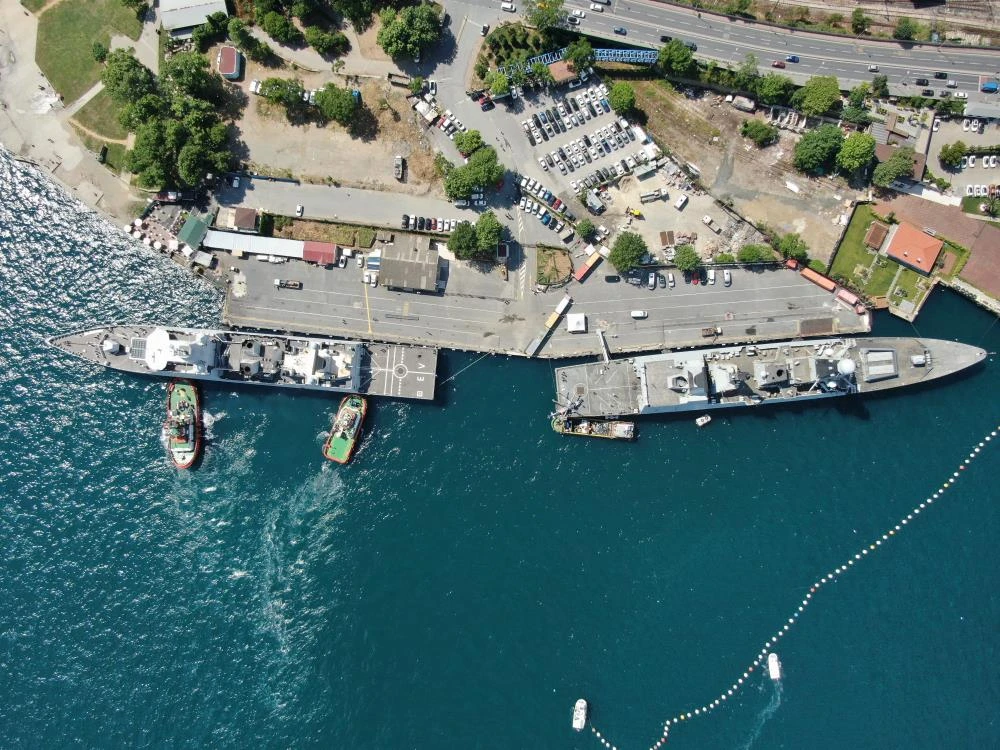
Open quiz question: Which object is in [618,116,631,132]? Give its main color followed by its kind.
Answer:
white vehicle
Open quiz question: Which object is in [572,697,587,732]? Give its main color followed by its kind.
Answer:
white boat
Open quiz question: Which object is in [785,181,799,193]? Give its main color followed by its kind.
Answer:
white vehicle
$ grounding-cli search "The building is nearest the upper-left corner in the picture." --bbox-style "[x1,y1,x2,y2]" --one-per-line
[160,0,233,38]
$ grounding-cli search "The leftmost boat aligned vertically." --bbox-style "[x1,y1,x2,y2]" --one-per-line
[165,378,201,469]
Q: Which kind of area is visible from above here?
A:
port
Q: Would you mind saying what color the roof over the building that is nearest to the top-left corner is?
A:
white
